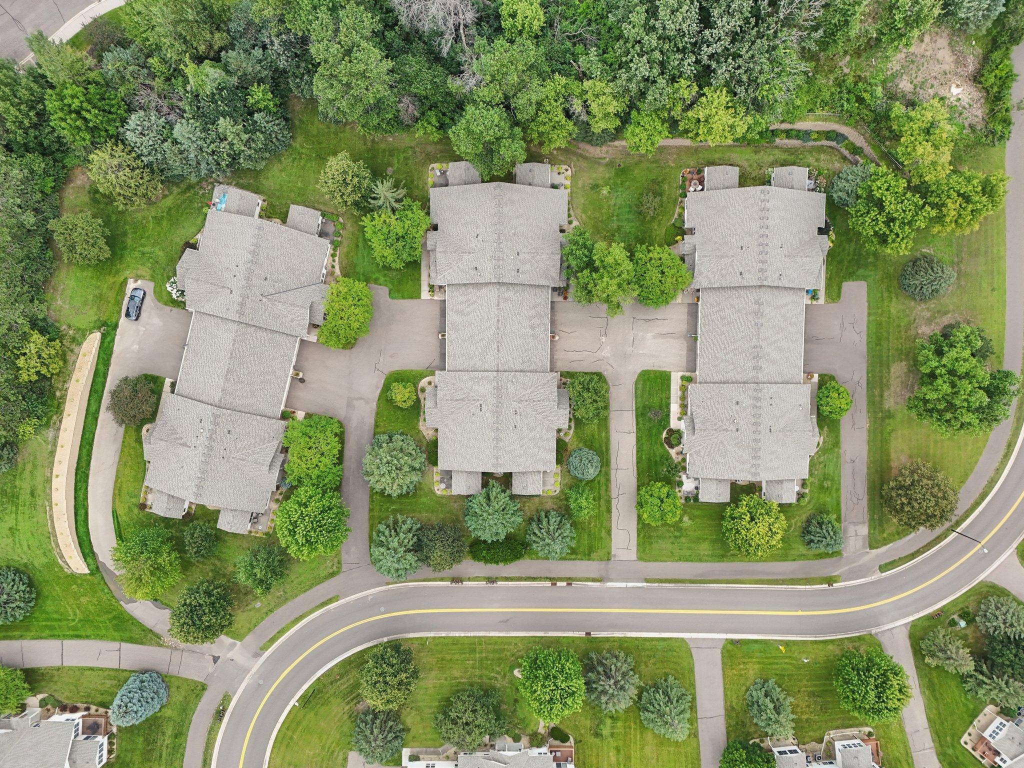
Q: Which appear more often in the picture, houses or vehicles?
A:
houses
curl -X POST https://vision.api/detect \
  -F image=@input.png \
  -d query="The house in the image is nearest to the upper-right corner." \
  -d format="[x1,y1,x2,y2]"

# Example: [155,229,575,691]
[678,166,827,504]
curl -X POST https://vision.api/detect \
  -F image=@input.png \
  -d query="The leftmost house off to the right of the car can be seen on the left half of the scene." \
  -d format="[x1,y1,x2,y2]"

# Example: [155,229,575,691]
[143,188,332,534]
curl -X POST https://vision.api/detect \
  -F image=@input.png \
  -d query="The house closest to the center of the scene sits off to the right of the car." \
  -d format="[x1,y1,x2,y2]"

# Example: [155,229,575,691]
[426,162,569,495]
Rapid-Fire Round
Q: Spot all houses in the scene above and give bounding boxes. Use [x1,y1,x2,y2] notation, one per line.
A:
[980,714,1024,768]
[426,162,569,495]
[770,737,871,768]
[405,740,573,768]
[0,708,108,768]
[143,188,332,534]
[678,166,827,504]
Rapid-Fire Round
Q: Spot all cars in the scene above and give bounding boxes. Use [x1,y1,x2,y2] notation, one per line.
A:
[121,285,145,322]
